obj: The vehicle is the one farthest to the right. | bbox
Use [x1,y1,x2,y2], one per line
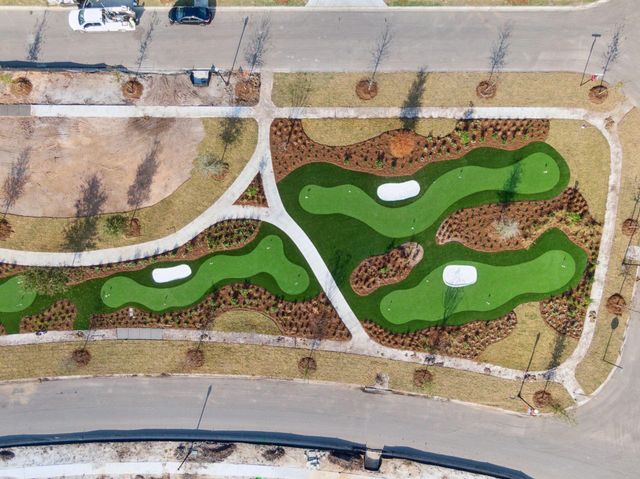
[169,3,214,26]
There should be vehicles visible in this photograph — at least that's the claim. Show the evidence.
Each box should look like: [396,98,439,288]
[68,4,136,32]
[169,3,214,26]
